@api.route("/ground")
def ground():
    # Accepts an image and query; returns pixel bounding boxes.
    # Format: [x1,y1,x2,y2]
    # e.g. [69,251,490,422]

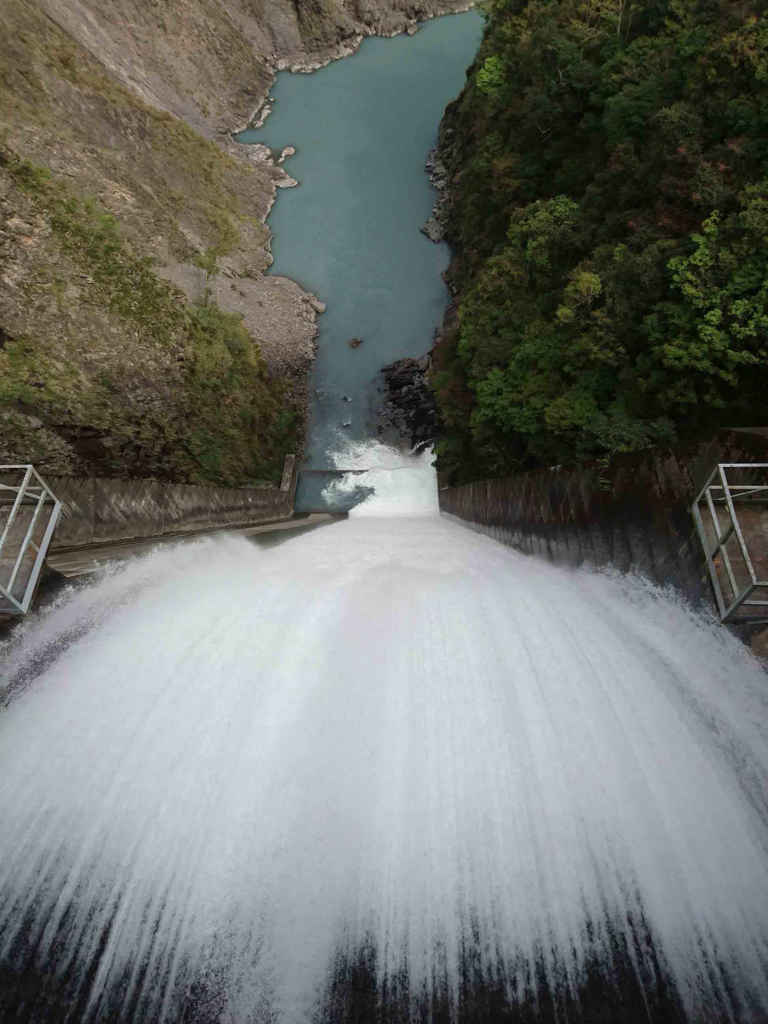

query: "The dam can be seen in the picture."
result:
[0,512,347,690]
